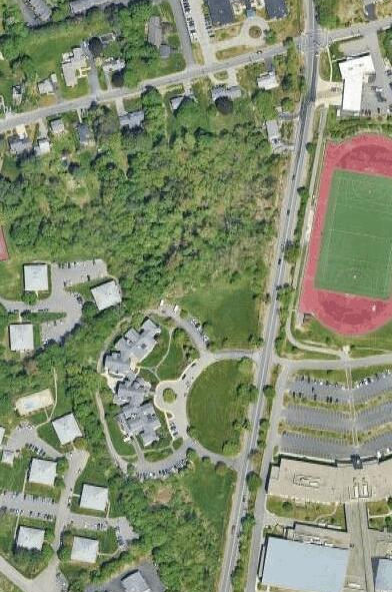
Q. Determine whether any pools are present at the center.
No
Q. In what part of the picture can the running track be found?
right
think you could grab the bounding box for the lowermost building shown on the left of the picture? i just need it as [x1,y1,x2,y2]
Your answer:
[121,571,150,592]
